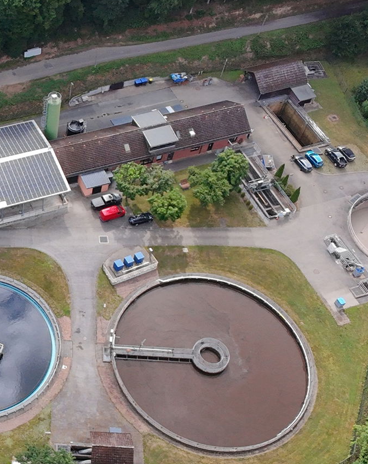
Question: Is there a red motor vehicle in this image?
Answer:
Yes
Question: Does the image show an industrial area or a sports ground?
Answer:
industrial area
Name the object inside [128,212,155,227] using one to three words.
car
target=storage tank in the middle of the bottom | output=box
[102,277,310,451]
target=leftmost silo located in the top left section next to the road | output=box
[36,89,62,142]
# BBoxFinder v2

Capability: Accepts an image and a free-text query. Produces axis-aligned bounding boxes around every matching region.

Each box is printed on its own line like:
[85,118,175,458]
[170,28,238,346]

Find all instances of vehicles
[92,191,123,208]
[337,143,361,161]
[128,212,155,227]
[292,152,316,172]
[98,203,128,222]
[325,144,351,167]
[304,145,326,166]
